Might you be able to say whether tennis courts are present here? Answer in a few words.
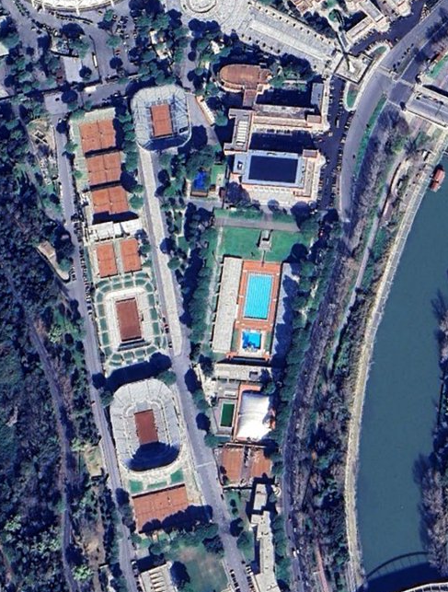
Yes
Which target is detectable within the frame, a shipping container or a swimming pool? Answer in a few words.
swimming pool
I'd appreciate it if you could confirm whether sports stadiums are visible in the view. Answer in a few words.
Yes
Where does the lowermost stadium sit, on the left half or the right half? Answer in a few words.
left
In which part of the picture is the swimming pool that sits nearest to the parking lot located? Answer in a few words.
center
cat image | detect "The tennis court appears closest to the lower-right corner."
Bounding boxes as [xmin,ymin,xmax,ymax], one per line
[252,448,272,479]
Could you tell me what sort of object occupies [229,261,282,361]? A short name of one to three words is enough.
swimming pool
